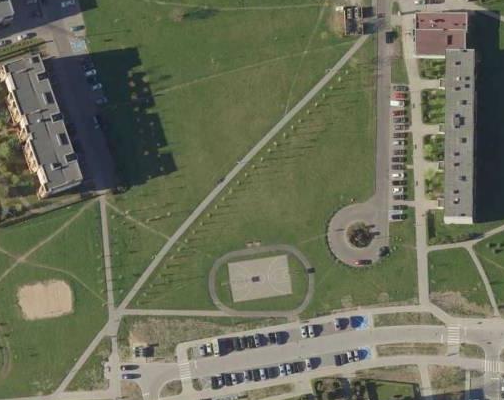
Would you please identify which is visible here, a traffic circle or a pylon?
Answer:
traffic circle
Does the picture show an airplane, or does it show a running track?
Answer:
running track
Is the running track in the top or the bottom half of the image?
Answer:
bottom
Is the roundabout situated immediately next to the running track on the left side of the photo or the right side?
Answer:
right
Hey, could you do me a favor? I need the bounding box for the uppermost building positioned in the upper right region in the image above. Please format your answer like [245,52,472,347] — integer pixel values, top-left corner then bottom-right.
[415,12,467,59]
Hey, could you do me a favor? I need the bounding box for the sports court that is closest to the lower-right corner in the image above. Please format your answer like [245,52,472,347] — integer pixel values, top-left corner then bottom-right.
[229,255,293,302]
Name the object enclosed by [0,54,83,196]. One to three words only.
building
